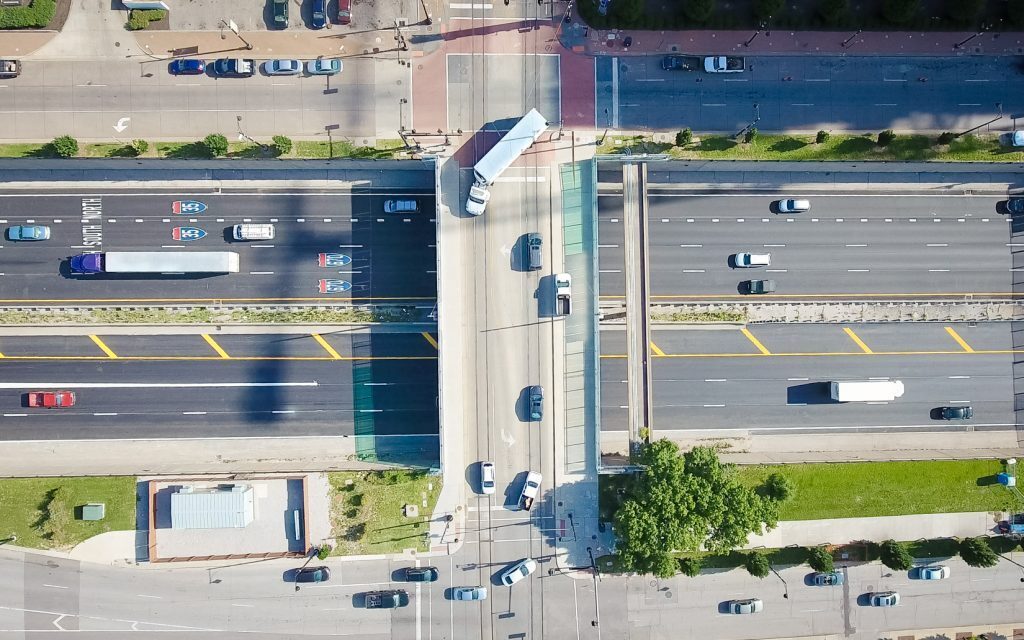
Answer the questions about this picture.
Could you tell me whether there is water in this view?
No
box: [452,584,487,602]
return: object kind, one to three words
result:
car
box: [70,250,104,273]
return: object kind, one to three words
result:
truck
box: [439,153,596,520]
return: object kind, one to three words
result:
bridge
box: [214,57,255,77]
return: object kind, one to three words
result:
vehicle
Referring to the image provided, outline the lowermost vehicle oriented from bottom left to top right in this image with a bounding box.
[498,556,538,587]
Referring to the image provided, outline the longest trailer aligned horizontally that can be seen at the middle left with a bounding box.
[104,251,242,273]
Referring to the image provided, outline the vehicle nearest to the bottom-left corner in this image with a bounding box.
[27,390,77,408]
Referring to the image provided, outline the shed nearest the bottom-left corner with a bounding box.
[172,487,252,529]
